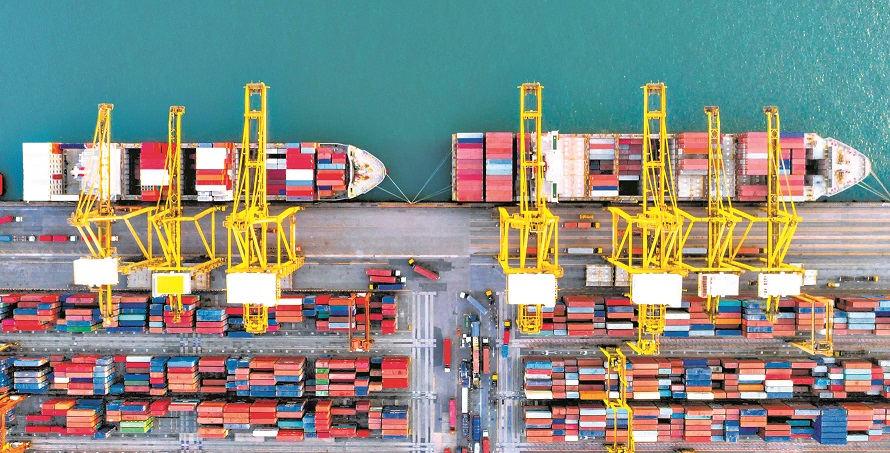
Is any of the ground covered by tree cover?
No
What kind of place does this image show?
port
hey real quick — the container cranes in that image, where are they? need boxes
[595,345,628,409]
[625,292,662,356]
[599,77,687,335]
[601,398,634,453]
[654,106,747,323]
[224,77,309,335]
[65,106,175,323]
[786,292,833,356]
[491,77,561,335]
[706,106,812,323]
[347,292,375,353]
[142,106,236,323]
